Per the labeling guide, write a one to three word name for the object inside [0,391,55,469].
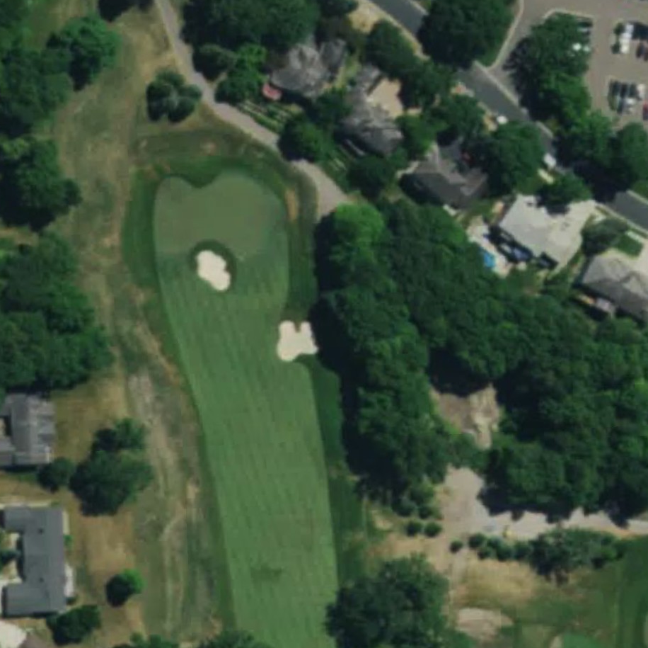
house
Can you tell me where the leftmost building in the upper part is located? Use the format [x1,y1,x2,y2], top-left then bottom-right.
[269,31,351,97]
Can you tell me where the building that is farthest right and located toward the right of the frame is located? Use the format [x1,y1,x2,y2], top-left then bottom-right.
[578,247,648,320]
